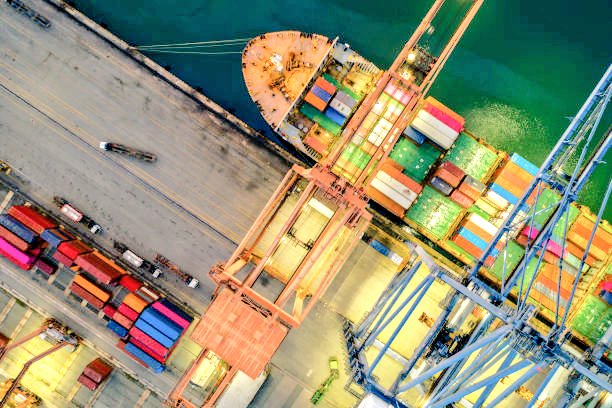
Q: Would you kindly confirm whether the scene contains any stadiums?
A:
No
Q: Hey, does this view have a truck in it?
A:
Yes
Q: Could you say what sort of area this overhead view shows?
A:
port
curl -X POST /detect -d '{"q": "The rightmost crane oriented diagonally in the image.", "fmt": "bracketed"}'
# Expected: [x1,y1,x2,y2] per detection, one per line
[336,66,612,408]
